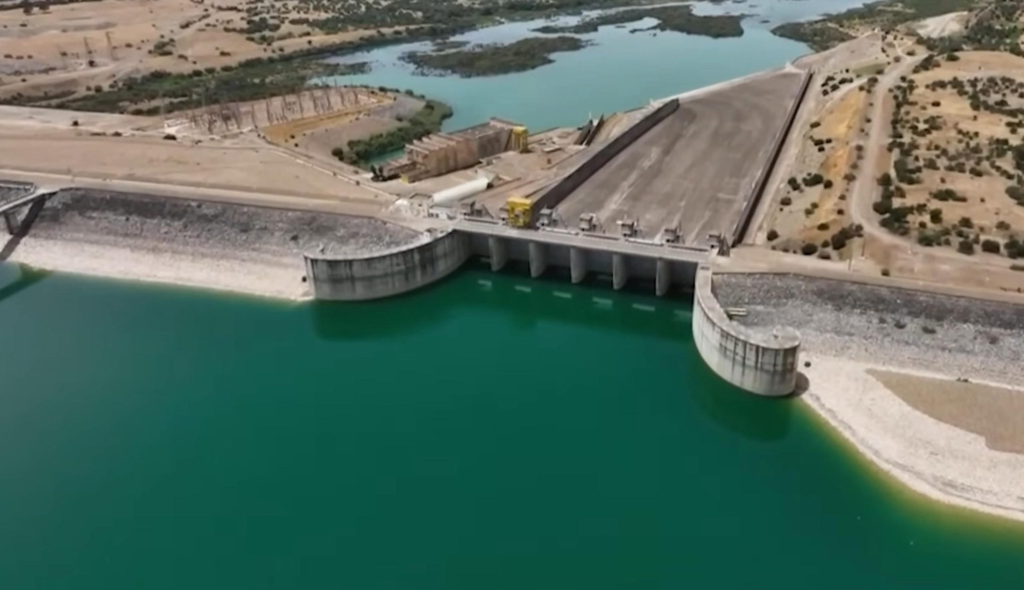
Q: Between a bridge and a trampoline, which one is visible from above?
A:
bridge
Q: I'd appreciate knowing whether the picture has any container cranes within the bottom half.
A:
No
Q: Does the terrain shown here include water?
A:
Yes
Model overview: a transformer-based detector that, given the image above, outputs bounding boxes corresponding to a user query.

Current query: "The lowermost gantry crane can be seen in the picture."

[504,196,535,234]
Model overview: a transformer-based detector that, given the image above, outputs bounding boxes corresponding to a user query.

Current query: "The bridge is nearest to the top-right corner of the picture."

[457,215,703,297]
